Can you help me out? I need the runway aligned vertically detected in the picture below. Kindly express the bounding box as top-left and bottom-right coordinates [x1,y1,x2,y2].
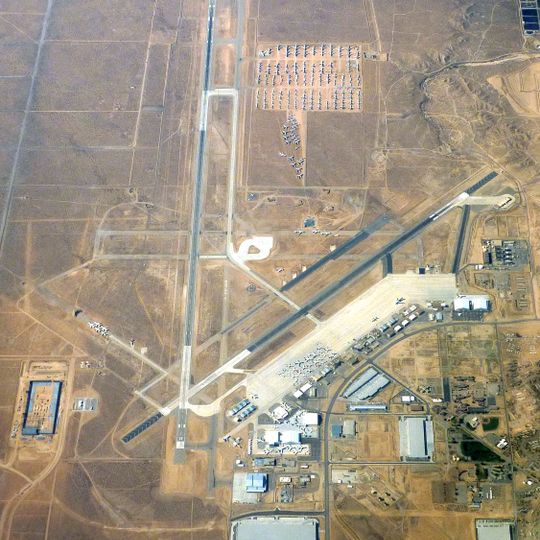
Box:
[173,0,217,464]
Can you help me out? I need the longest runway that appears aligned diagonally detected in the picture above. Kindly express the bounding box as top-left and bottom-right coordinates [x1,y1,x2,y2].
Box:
[121,175,496,443]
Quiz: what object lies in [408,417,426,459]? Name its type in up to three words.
building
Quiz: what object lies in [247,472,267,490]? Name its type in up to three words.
hangar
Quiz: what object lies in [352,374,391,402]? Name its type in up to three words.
building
